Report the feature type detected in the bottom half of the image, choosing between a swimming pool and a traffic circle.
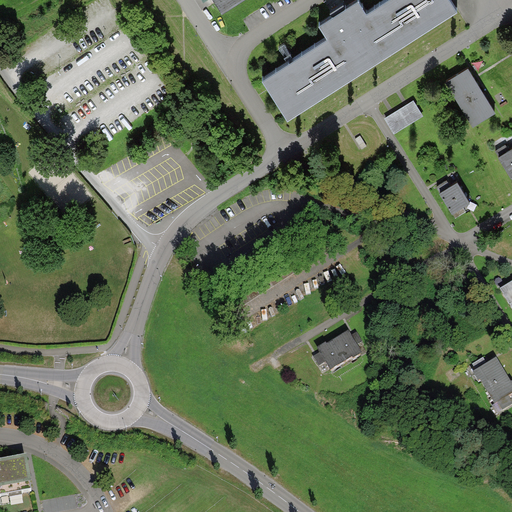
traffic circle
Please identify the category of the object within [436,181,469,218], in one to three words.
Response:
house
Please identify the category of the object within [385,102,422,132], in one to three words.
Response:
building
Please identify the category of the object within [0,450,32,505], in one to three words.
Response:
building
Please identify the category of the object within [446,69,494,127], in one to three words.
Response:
house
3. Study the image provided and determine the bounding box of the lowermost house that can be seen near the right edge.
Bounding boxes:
[477,358,512,422]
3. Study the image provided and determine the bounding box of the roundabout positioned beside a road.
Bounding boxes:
[74,354,150,430]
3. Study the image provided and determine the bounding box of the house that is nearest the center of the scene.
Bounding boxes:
[312,329,366,374]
